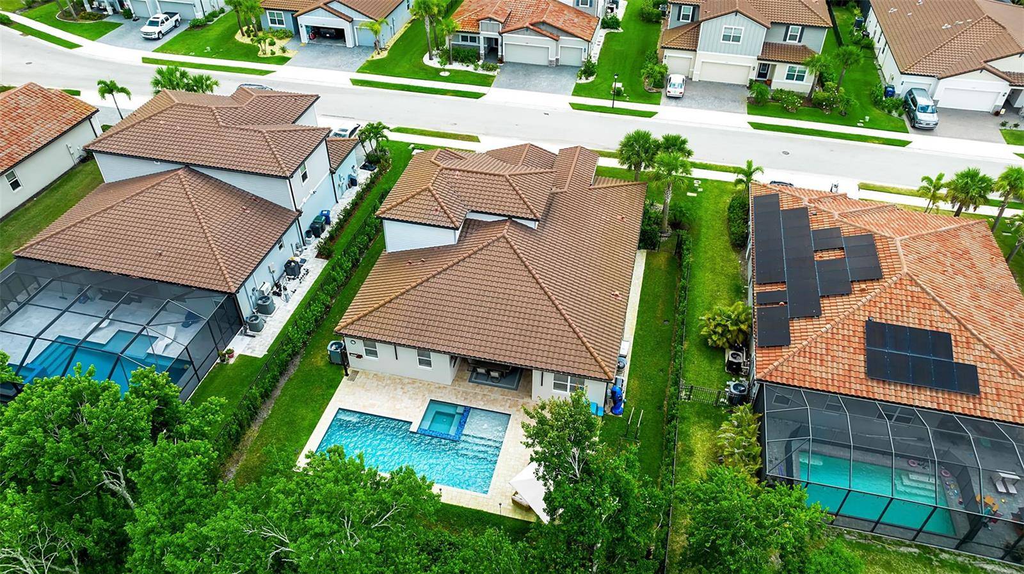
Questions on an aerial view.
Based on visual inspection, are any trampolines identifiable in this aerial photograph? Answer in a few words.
No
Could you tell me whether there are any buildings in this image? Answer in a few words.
Yes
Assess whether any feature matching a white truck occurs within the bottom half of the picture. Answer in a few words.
No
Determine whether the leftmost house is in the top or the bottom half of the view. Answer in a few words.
top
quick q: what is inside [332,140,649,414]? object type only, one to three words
house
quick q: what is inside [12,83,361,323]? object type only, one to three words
house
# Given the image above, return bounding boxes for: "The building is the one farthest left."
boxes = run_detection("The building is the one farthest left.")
[0,78,108,220]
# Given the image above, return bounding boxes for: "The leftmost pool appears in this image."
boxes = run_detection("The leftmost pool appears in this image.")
[0,313,188,425]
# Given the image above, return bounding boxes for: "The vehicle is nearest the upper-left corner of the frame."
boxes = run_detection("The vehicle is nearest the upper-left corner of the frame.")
[135,10,182,39]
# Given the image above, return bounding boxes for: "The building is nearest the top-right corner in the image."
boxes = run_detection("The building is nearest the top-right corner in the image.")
[866,0,1024,112]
